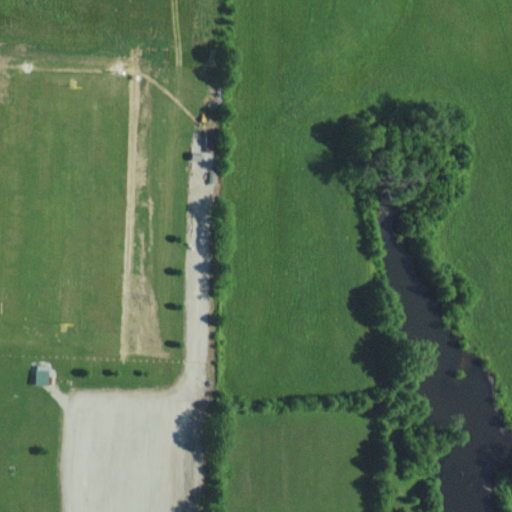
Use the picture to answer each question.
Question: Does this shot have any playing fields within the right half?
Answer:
No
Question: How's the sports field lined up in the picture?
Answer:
from top to bottom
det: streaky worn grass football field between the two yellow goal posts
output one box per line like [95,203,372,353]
[10,88,124,324]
